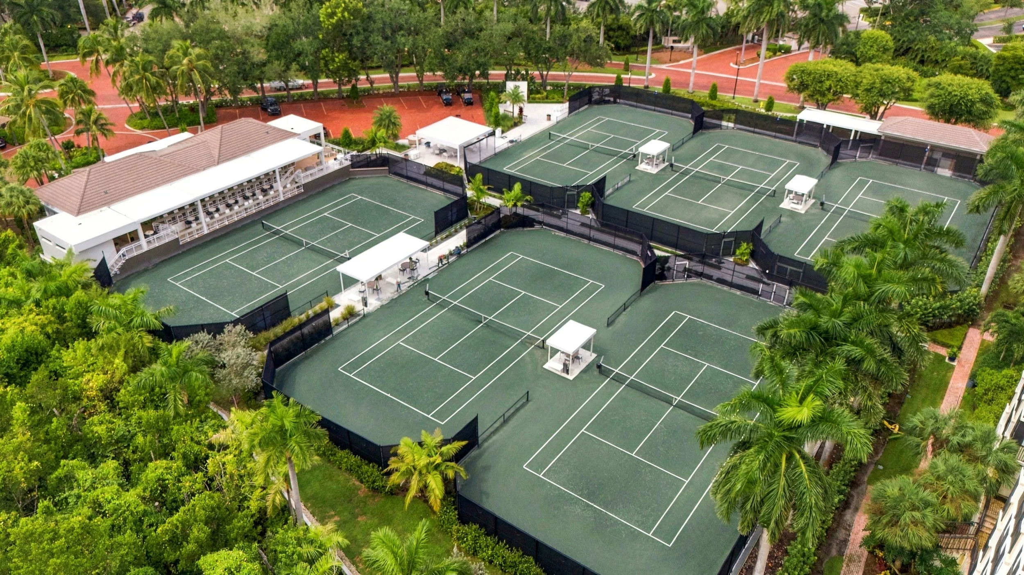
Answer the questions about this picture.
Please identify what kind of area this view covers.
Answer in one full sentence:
This looks like a sports ground.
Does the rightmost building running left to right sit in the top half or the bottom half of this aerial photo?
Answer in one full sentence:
You can find the rightmost building running left to right in the top half.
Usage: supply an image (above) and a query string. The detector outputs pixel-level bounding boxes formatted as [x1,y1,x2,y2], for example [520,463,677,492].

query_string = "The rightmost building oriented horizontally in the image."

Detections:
[876,115,995,158]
